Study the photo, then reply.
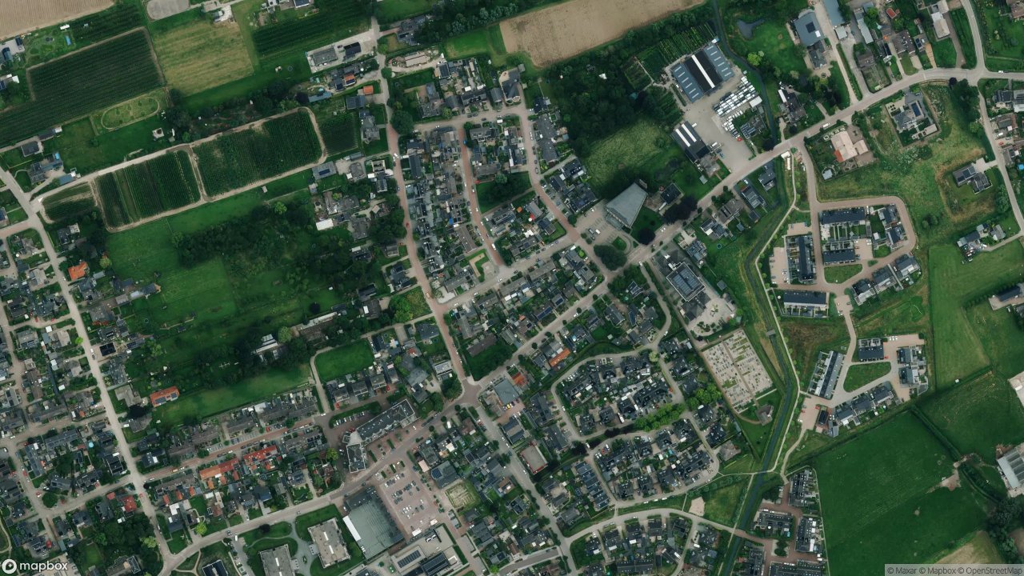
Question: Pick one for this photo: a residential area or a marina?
residential area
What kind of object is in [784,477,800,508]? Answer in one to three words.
building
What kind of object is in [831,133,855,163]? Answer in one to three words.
house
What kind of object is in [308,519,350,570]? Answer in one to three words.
house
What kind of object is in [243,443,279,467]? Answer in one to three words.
building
